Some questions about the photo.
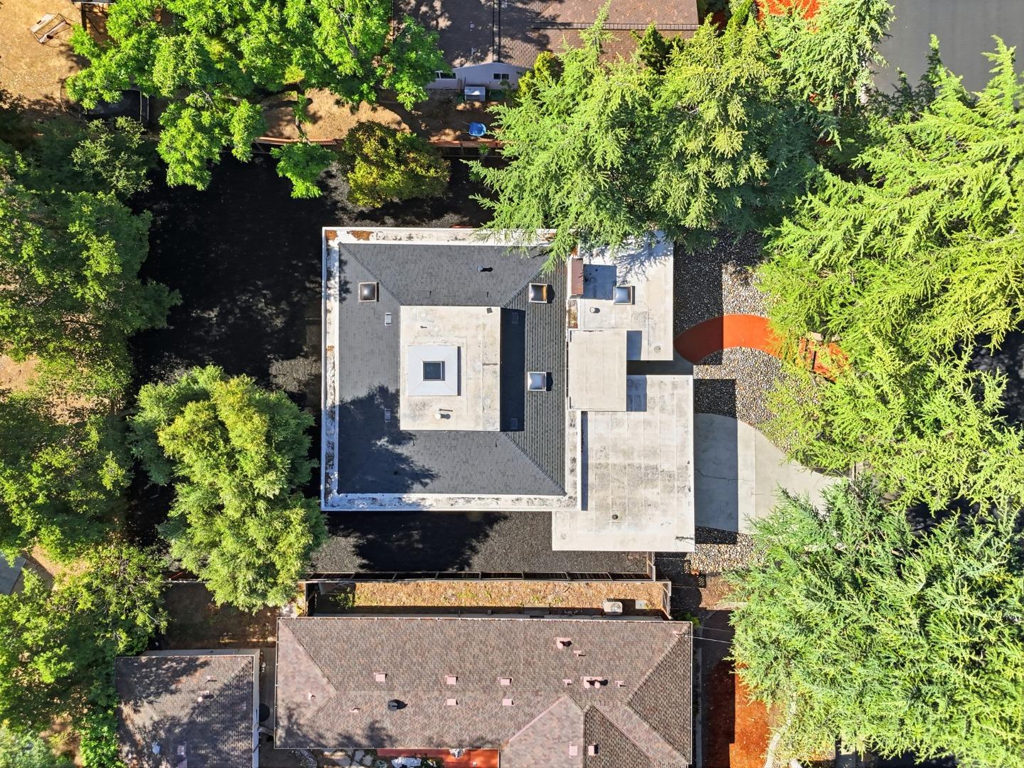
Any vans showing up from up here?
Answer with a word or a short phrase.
No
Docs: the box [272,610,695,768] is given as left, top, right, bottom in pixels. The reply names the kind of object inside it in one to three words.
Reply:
house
